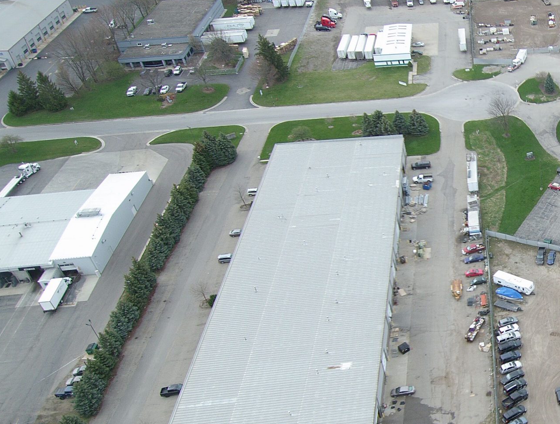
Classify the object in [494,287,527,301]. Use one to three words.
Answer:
boat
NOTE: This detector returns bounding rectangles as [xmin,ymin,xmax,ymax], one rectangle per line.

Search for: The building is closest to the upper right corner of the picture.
[369,23,415,75]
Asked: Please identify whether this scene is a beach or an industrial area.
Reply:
industrial area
